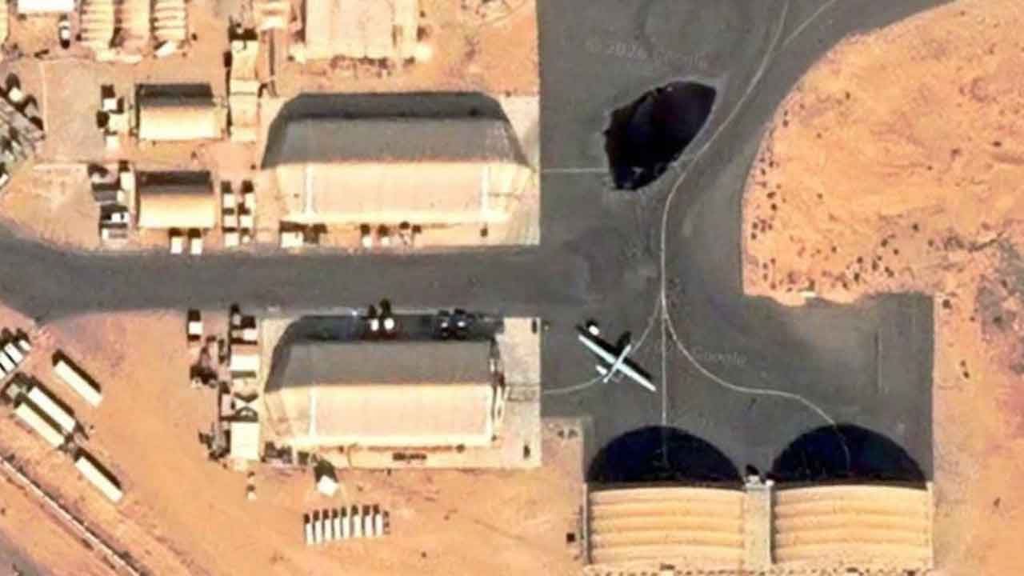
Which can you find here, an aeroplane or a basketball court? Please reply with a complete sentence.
Of the two, only an aeroplane appears.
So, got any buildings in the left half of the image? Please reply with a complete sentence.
Yes, in the left half of the image there is a building.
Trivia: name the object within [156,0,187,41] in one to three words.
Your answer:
tent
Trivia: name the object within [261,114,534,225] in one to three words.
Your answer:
hangar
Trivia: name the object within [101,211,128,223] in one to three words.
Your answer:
vehicle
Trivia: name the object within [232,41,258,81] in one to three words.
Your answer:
building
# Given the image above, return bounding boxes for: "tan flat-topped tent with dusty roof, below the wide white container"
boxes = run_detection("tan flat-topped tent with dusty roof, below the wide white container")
[231,378,258,395]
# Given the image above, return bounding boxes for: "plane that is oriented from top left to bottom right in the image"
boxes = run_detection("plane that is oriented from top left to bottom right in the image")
[578,335,657,391]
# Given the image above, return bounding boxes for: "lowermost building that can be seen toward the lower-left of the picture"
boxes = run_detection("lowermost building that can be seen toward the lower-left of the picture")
[230,423,259,462]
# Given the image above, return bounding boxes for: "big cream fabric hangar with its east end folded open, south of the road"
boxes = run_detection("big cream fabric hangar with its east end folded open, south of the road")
[262,335,505,449]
